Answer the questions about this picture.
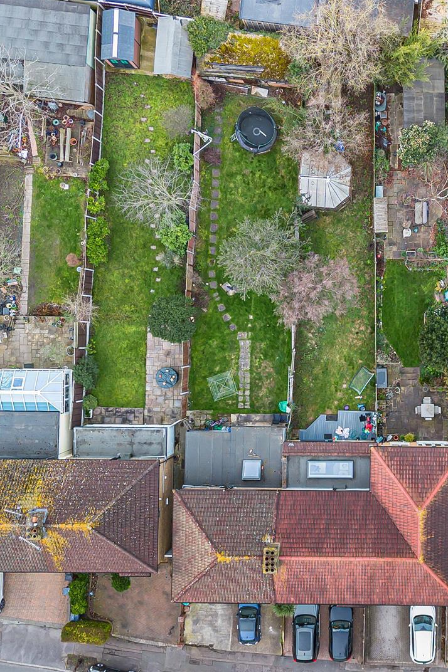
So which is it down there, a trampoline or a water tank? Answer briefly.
trampoline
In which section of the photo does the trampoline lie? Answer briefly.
top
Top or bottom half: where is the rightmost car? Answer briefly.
bottom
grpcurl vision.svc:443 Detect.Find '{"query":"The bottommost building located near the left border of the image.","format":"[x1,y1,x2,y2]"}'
[0,453,176,573]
